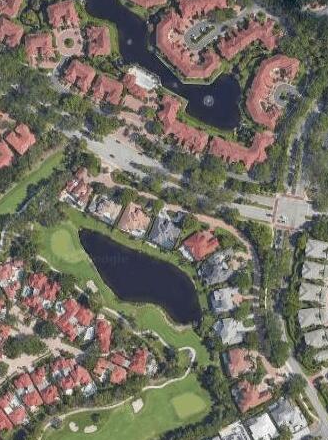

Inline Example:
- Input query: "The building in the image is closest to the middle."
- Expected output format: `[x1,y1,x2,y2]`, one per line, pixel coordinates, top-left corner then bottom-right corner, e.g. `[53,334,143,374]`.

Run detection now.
[148,209,184,248]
